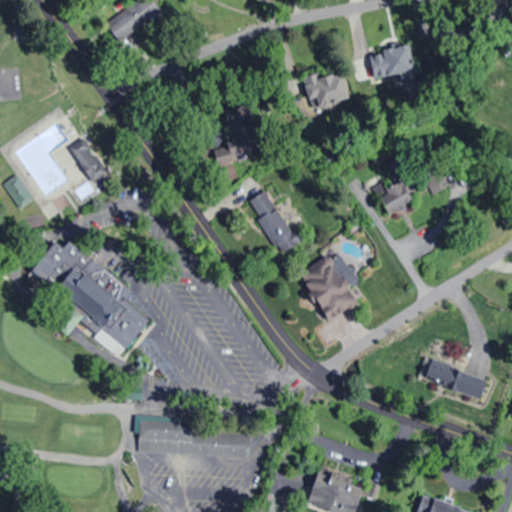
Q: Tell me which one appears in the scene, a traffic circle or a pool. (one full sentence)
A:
The one in the frame is a pool.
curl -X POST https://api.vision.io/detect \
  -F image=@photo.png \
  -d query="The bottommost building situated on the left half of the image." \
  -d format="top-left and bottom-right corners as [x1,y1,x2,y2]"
[134,416,250,461]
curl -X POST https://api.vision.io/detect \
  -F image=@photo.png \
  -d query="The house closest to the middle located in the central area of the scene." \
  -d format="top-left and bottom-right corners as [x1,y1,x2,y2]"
[250,192,300,250]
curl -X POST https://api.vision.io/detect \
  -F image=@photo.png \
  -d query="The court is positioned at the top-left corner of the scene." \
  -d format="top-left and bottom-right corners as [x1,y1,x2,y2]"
[0,67,22,101]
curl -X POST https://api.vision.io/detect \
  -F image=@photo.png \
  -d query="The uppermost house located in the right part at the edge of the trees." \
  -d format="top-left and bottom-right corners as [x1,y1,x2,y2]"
[372,44,418,78]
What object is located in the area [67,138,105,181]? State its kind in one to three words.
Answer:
building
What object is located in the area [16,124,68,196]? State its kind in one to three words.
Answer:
swimming pool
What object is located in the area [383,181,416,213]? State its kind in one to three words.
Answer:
house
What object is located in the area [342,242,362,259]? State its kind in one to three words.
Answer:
swimming pool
